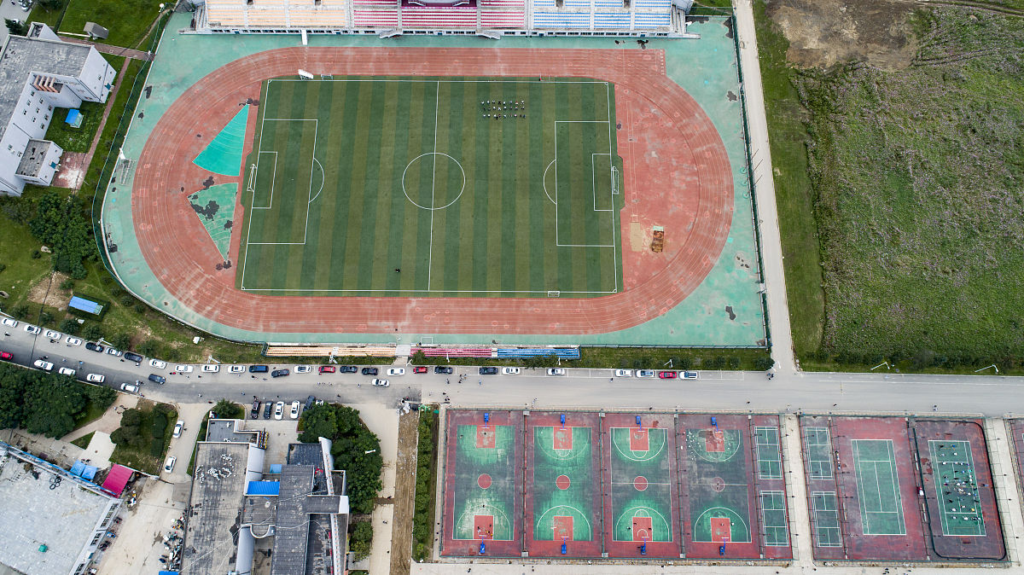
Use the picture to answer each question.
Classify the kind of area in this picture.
sports ground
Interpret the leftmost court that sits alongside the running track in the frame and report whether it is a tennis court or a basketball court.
basketball court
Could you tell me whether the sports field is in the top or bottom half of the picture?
top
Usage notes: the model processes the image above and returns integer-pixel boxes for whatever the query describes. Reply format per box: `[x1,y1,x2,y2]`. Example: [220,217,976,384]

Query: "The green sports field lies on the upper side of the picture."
[235,75,625,298]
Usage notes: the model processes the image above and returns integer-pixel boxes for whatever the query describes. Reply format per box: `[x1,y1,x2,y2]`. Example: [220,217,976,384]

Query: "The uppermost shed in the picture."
[82,24,108,43]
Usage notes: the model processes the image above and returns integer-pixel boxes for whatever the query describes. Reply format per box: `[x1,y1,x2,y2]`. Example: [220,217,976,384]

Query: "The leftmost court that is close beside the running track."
[441,411,523,557]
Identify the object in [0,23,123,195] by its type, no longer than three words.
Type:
building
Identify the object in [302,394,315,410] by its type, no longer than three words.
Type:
vehicle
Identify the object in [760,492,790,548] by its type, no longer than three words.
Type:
sports court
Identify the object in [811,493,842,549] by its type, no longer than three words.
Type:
sports court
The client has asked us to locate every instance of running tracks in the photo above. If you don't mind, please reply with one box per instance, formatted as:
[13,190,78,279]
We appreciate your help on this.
[103,10,766,346]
